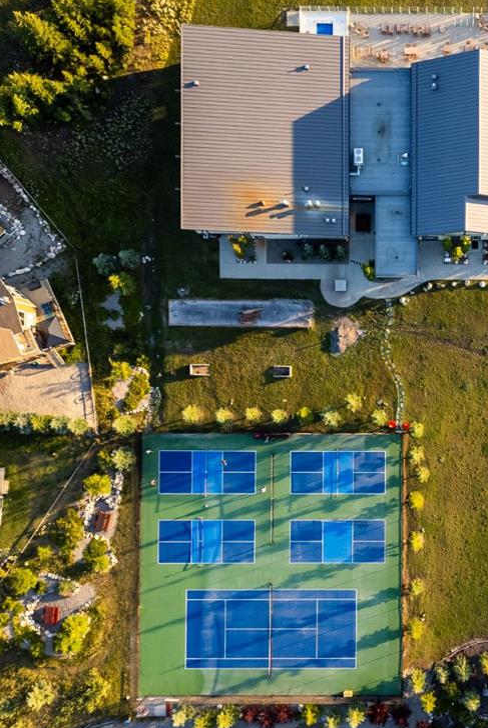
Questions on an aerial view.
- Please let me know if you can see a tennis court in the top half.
No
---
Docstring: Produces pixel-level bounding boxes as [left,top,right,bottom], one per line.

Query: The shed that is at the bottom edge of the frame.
[138,696,181,720]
